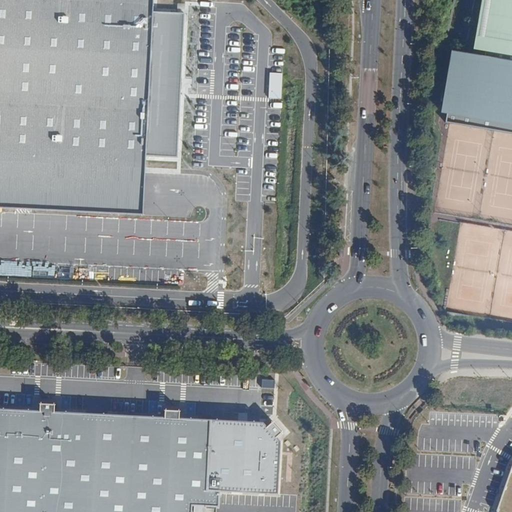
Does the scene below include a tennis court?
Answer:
Yes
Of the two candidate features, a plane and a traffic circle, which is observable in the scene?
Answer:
traffic circle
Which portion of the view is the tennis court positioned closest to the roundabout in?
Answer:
right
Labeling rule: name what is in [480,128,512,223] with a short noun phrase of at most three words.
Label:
tennis court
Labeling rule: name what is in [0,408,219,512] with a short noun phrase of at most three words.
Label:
building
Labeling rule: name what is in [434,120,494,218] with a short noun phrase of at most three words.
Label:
tennis court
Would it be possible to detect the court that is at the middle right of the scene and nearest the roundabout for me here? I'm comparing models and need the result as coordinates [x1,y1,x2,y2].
[446,222,504,315]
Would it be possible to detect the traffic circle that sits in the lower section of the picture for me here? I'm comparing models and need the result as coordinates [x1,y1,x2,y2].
[303,276,443,414]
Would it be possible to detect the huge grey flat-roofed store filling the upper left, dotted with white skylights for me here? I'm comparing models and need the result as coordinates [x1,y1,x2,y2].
[0,0,154,214]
